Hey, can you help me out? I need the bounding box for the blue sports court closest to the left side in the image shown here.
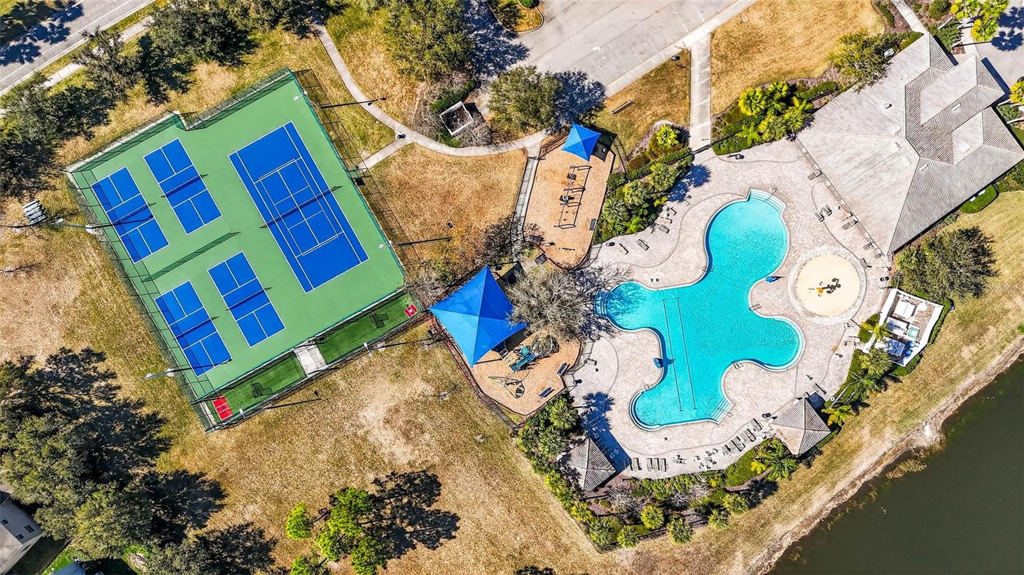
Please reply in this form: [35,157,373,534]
[91,167,168,263]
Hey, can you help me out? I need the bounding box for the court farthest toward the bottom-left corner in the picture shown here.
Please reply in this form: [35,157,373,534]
[155,280,231,377]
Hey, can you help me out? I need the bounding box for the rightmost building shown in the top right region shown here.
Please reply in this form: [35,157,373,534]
[795,31,1024,257]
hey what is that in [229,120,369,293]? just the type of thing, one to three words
tennis court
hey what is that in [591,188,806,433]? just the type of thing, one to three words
swimming pool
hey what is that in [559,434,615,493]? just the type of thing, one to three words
gazebo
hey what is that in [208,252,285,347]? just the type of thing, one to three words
sports court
